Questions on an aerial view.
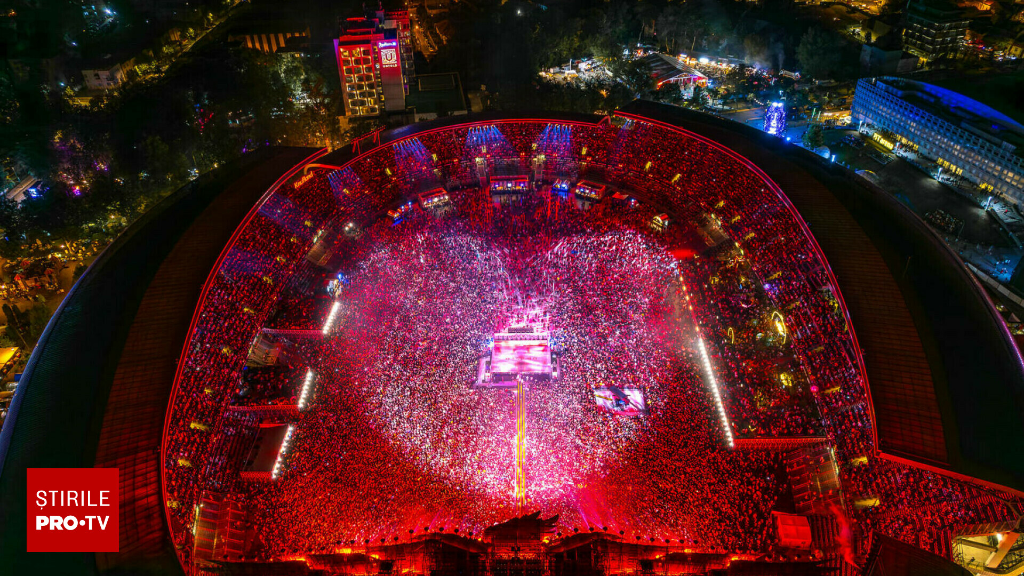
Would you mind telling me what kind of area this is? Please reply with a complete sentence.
What you see here is a sports ground.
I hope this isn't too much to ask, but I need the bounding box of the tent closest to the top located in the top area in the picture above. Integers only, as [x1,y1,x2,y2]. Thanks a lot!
[605,50,710,91]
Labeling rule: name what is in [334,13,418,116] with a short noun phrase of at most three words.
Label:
building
